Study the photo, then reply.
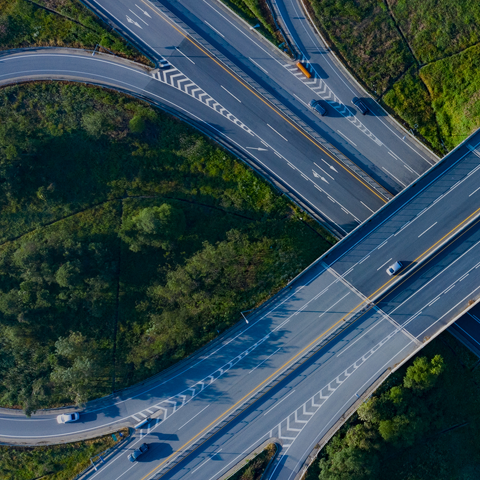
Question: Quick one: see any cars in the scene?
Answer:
Yes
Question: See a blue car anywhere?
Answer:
Yes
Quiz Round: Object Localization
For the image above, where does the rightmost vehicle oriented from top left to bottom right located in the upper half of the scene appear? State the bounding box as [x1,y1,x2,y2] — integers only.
[351,95,370,118]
